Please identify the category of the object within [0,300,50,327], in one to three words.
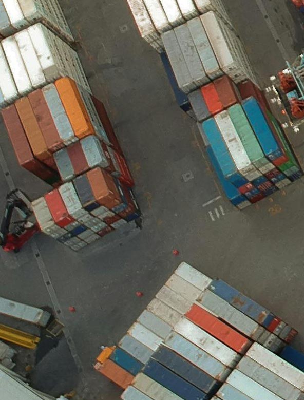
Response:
shipping container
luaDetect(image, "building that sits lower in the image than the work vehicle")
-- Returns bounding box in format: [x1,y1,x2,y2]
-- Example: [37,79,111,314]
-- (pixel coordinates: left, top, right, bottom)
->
[0,364,65,400]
